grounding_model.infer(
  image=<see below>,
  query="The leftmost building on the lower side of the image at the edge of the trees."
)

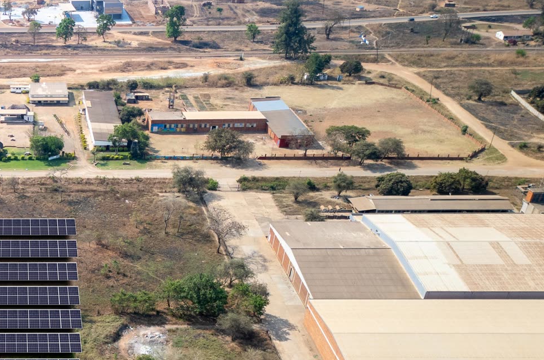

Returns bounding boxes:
[265,219,416,309]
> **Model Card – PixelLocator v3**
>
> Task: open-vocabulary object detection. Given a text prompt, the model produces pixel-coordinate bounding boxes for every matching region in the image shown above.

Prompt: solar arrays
[0,263,78,281]
[0,240,77,260]
[0,219,77,240]
[0,310,82,333]
[0,334,82,357]
[0,287,80,309]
